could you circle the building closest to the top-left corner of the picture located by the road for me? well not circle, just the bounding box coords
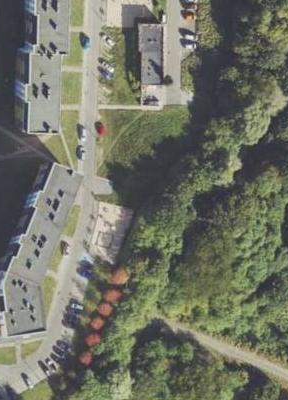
[12,0,71,133]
